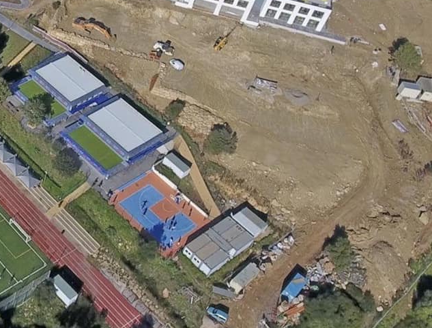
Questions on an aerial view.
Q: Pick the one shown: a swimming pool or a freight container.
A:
freight container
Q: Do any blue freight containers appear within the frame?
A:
Yes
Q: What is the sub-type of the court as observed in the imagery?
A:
basketball court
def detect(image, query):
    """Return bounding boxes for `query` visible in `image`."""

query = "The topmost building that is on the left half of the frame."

[29,51,111,112]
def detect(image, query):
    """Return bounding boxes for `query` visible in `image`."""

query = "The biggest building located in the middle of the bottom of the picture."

[180,214,253,280]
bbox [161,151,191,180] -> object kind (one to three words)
shed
